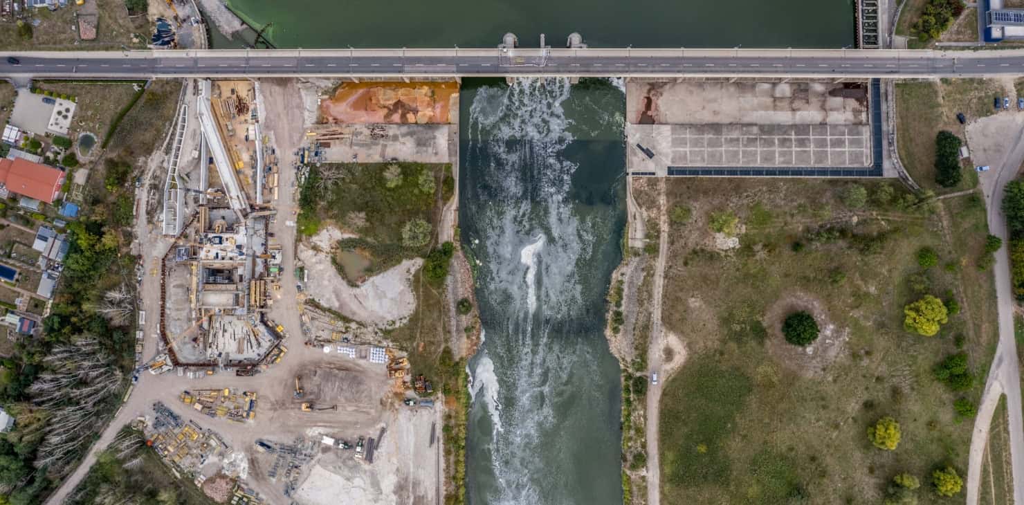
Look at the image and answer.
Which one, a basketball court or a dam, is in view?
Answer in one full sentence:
I can see a dam in this picture.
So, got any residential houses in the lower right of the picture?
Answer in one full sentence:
No, I can find no residential house in the lower right of the picture.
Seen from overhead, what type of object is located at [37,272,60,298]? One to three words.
house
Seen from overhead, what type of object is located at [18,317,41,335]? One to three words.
house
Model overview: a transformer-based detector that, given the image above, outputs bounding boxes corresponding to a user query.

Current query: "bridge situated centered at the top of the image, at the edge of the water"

[149,46,939,82]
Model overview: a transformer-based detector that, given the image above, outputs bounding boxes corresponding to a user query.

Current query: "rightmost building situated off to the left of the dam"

[197,212,269,317]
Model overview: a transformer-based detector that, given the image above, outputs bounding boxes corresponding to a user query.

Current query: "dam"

[301,34,870,244]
